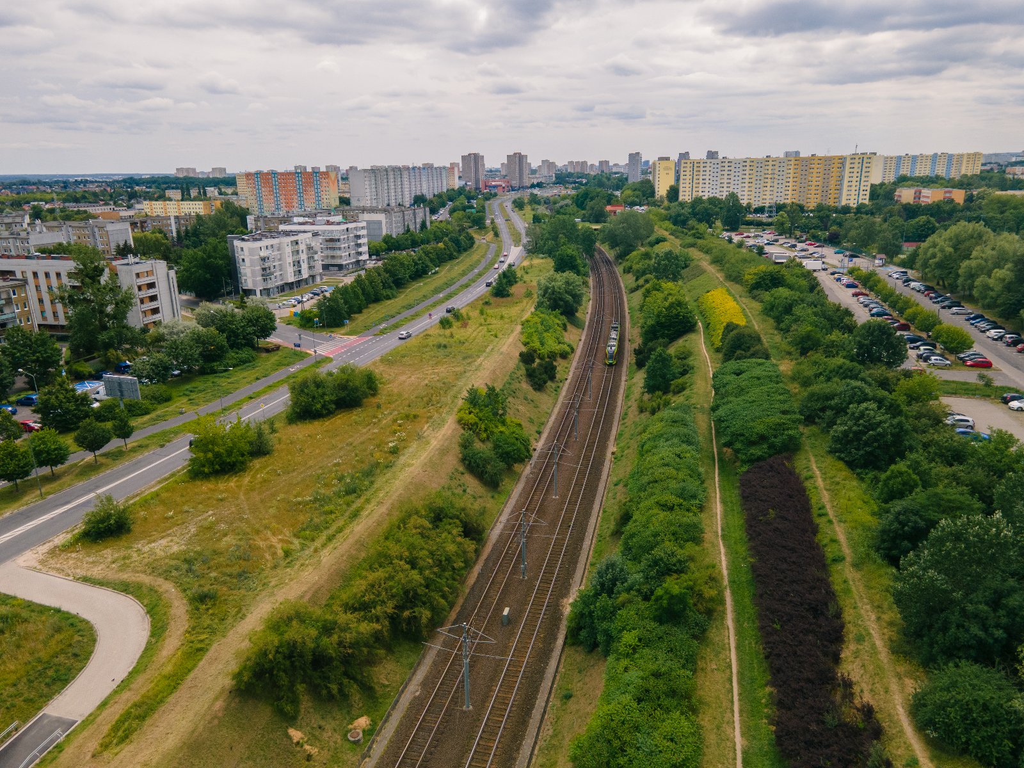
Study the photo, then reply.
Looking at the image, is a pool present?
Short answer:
No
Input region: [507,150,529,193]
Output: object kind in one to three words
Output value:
building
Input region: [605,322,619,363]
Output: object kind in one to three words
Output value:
train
